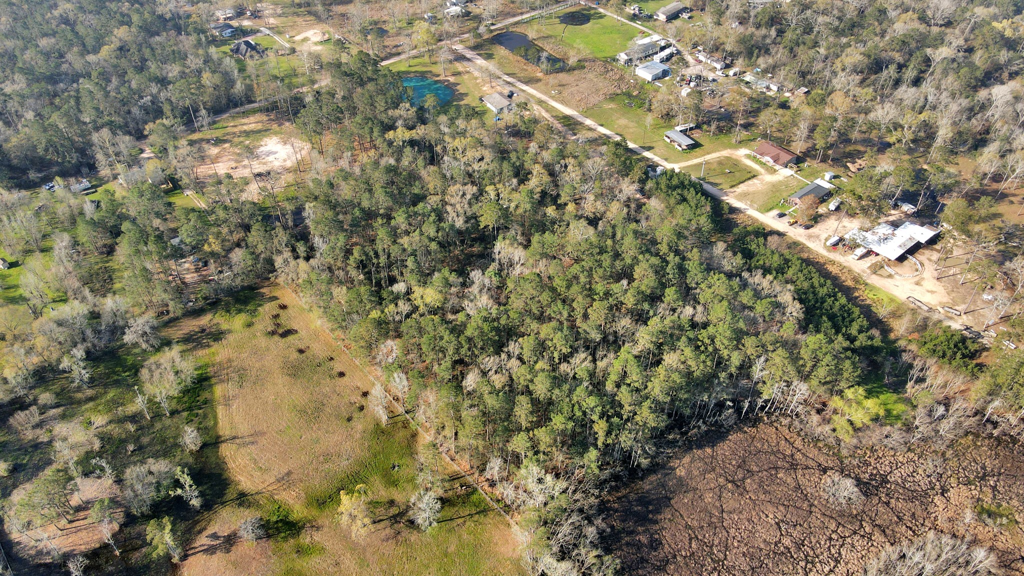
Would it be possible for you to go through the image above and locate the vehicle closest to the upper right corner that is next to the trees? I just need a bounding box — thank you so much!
[901,199,919,214]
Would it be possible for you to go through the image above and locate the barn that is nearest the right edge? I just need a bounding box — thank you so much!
[843,222,940,264]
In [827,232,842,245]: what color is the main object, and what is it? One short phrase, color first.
white vehicle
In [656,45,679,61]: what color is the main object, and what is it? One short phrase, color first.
white vehicle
